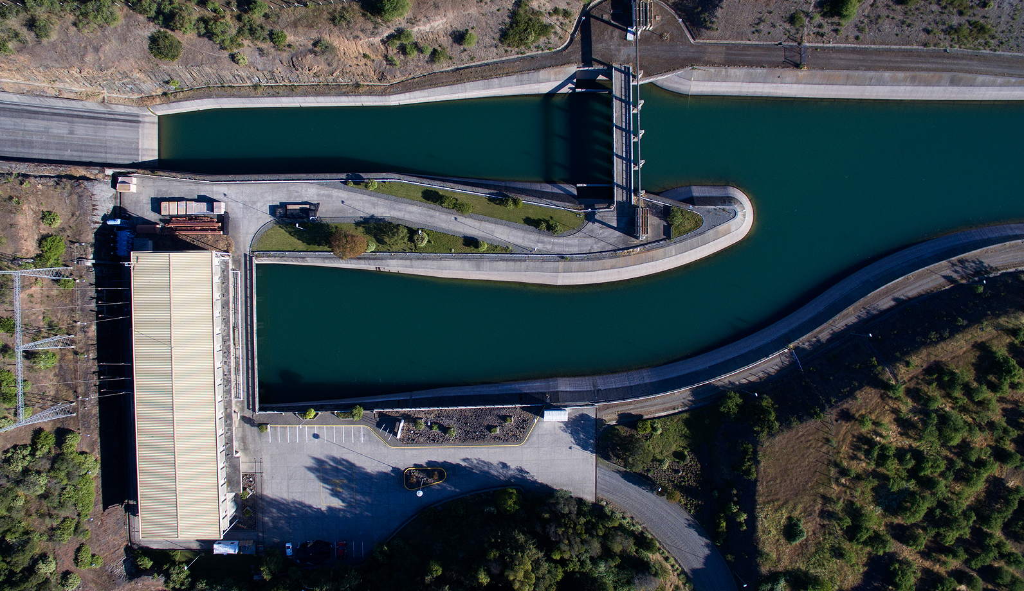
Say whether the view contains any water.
Yes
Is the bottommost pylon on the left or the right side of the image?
left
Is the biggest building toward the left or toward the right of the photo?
left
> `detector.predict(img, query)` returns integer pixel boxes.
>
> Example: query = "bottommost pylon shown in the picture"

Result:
[0,401,82,429]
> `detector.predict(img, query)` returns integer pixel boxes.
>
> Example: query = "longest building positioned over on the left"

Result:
[126,251,243,540]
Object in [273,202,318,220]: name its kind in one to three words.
vehicle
